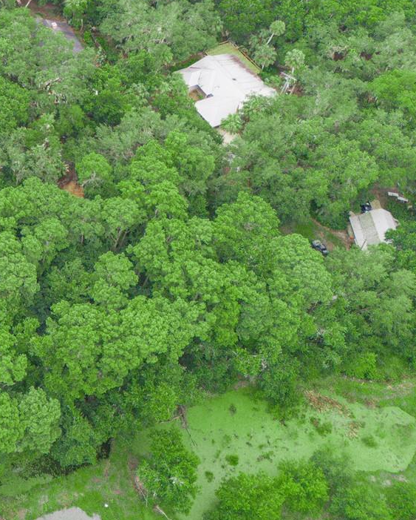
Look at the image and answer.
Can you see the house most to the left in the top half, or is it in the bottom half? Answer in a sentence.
The house most to the left is in the top half of the image.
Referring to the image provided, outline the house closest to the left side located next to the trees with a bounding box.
[173,53,277,133]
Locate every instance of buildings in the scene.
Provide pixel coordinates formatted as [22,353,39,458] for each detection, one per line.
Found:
[343,208,398,258]
[173,53,277,133]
